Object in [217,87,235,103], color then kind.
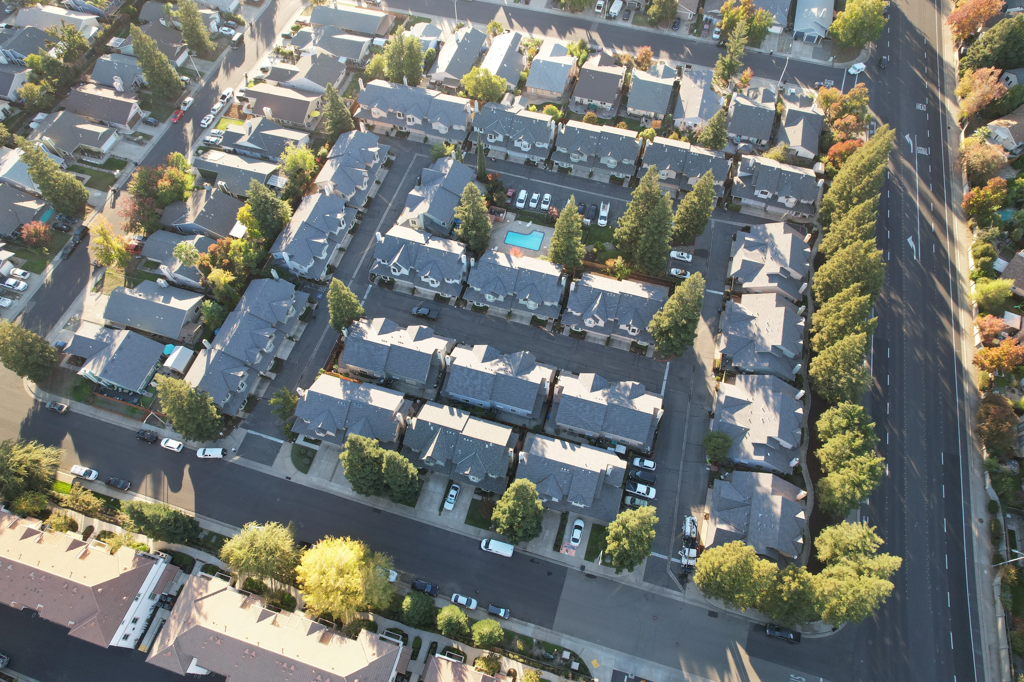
white vehicle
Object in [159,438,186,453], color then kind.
white car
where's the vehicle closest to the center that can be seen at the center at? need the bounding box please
[411,307,439,321]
